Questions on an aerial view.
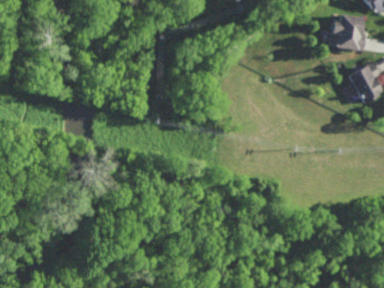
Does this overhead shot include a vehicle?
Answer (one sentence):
No, the frame has no vehicle in it.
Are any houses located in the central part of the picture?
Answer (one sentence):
No, I can find no house in the central part of the picture.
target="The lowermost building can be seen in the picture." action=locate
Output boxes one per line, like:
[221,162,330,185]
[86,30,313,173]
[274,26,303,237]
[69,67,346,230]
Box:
[350,68,384,106]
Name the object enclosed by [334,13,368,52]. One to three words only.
house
